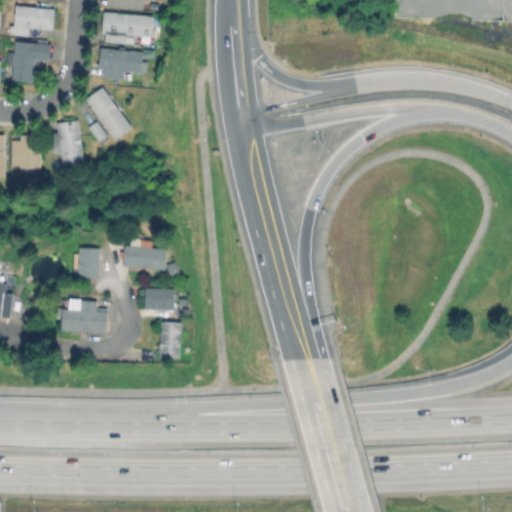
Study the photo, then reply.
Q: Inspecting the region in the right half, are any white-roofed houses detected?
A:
No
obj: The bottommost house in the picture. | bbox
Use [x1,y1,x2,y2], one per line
[160,322,182,360]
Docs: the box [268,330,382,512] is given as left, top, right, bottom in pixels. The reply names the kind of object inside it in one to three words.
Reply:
overpass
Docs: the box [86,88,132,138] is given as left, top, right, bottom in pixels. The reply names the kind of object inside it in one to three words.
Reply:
house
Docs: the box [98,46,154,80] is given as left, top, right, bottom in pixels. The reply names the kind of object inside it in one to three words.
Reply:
house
